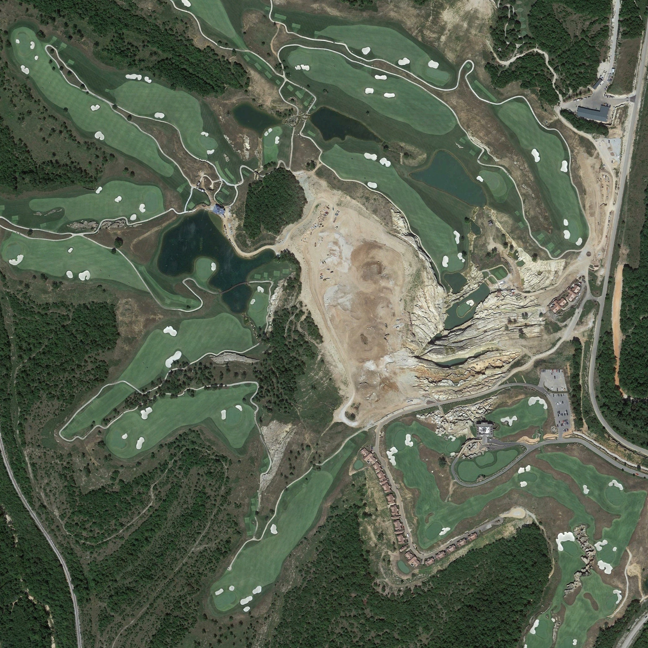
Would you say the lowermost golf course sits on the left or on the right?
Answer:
right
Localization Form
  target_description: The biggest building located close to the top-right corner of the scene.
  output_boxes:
[577,101,610,121]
